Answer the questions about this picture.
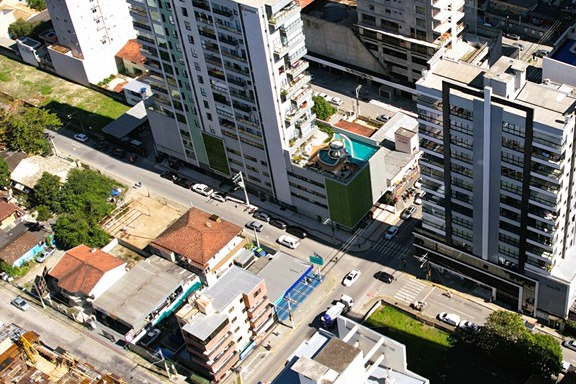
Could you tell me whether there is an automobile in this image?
Yes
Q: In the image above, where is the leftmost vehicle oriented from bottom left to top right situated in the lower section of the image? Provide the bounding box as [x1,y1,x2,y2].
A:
[32,245,60,264]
